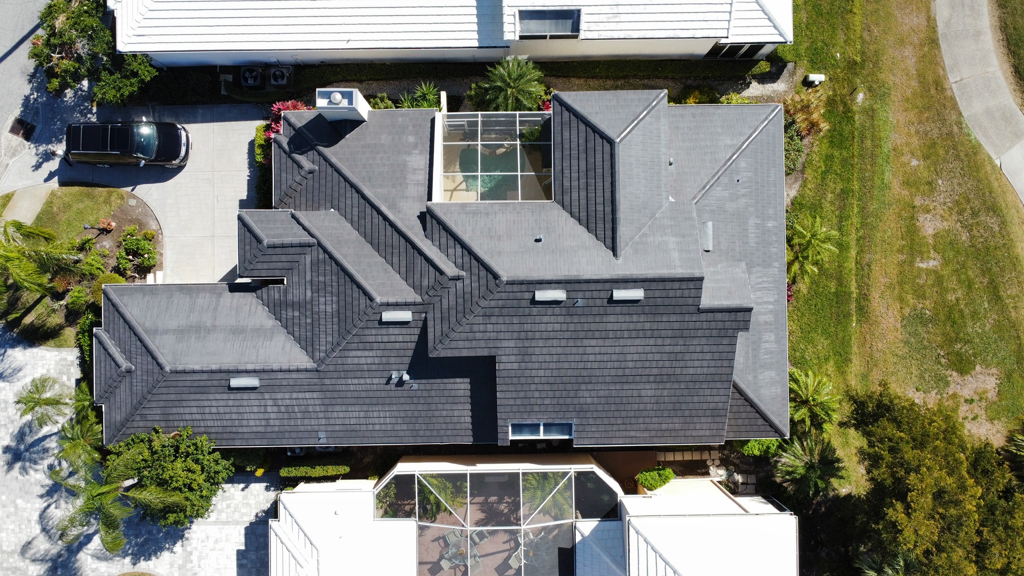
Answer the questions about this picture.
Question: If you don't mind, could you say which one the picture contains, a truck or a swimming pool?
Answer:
swimming pool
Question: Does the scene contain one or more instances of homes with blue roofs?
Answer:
No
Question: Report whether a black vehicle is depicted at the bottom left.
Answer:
No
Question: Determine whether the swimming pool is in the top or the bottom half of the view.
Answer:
top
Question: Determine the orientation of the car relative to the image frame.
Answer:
from left to right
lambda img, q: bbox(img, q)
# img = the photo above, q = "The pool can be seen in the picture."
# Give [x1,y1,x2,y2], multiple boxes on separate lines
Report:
[459,128,526,201]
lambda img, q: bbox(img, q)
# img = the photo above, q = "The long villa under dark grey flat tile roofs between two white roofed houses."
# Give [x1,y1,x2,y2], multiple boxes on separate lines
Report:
[90,88,791,449]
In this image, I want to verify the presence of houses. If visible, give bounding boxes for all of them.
[90,88,791,449]
[266,455,799,576]
[102,0,796,80]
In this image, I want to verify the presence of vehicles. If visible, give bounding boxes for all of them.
[62,114,191,170]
